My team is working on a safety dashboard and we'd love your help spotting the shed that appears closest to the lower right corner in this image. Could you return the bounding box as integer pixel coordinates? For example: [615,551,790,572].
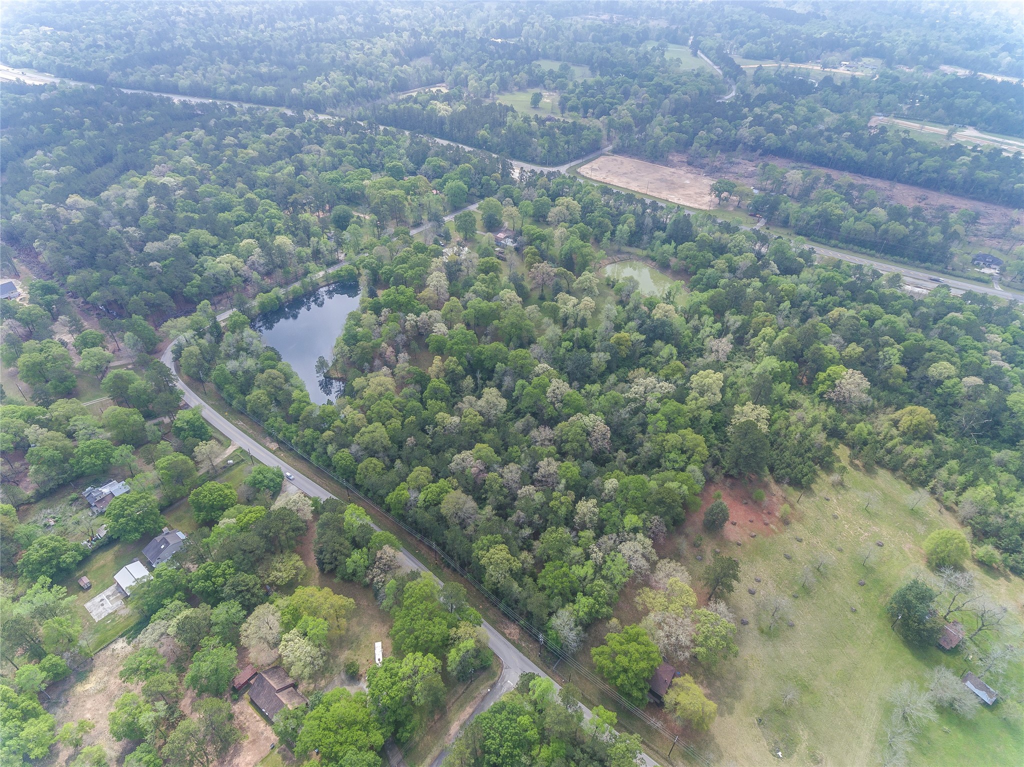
[962,671,998,707]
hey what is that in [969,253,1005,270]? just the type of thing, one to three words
house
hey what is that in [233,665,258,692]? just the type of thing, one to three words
shed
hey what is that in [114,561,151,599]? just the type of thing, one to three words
barn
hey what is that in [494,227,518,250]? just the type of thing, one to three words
house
